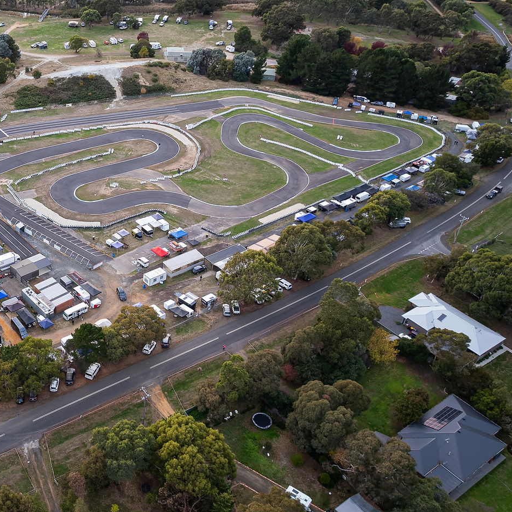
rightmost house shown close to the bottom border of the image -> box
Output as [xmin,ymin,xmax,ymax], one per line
[398,393,508,501]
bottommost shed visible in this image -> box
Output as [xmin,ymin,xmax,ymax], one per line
[336,493,383,512]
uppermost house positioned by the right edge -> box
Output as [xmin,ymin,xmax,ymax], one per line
[401,292,506,362]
